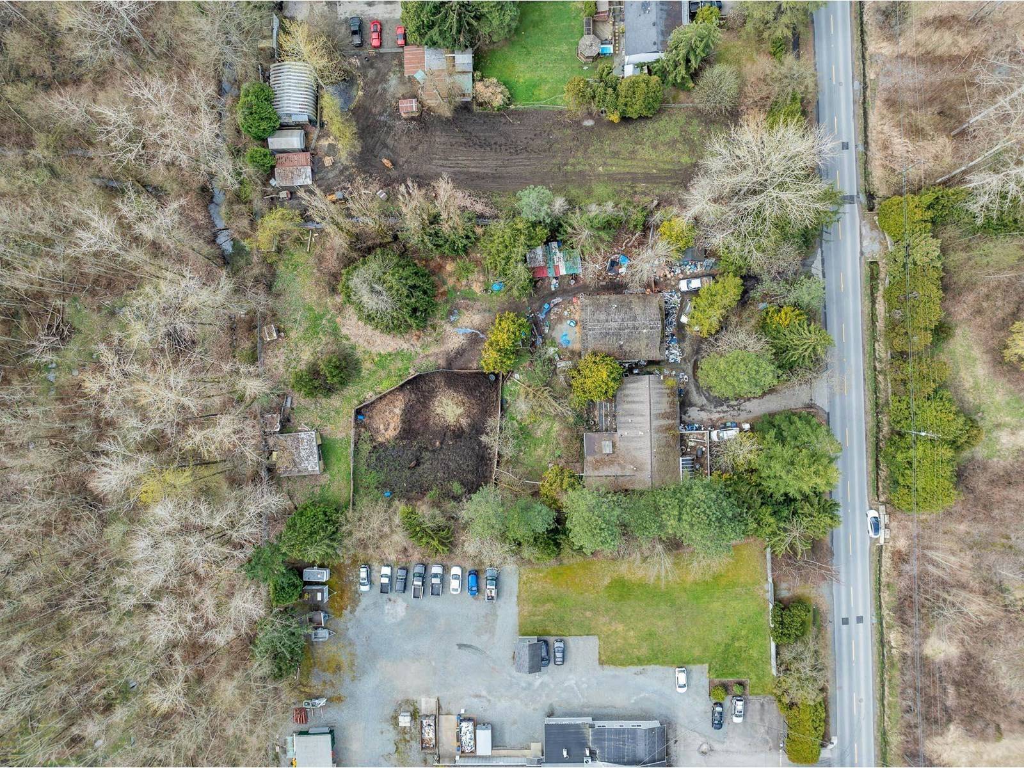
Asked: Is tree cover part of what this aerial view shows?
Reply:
Yes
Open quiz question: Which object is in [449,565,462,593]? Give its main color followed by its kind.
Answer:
white vehicle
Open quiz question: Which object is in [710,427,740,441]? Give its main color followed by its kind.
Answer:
white vehicle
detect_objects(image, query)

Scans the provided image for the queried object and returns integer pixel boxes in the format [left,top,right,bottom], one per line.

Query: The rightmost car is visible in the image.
[865,509,881,538]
